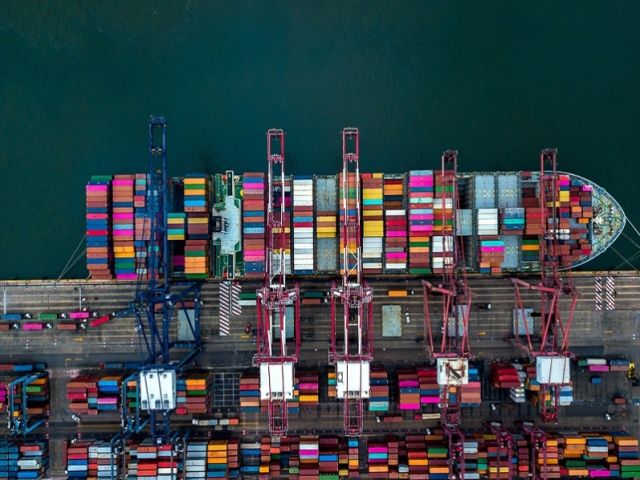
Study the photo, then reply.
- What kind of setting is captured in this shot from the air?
port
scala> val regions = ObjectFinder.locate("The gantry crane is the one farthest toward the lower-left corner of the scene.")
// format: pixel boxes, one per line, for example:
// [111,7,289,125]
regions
[8,370,49,434]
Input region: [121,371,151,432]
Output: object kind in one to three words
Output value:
container crane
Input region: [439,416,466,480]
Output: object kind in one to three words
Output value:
container crane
